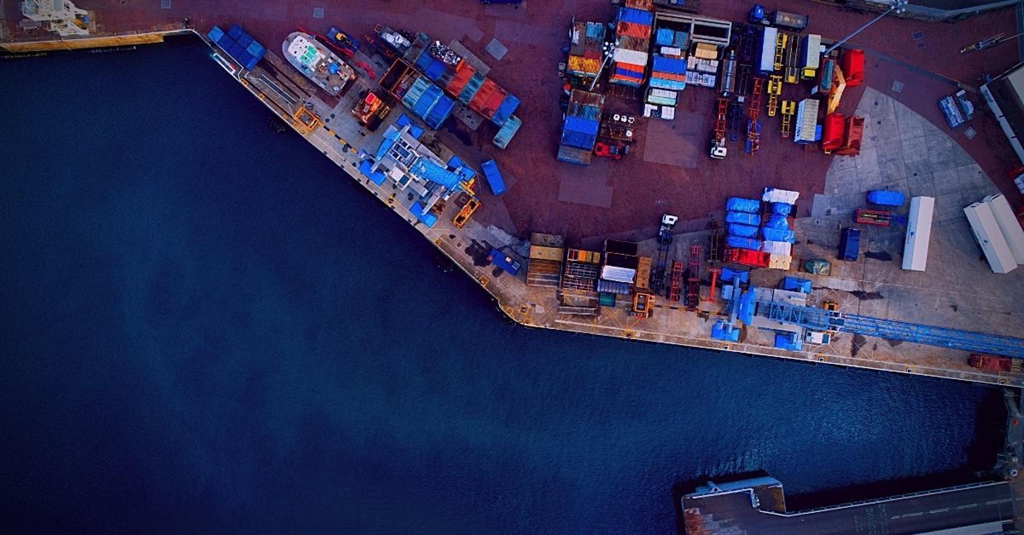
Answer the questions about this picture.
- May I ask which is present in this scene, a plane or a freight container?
freight container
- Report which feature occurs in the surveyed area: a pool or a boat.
boat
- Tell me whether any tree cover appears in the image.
No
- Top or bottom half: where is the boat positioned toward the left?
top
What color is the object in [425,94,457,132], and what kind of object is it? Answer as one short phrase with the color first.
blue shipping container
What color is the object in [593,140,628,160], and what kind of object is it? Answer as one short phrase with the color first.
red vehicle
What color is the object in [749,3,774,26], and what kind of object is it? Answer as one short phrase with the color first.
blue truck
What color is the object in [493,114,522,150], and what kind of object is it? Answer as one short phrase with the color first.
blue shipping container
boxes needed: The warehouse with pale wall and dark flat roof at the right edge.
[973,70,1024,169]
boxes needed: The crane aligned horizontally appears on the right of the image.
[710,266,1024,360]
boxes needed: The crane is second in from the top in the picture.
[358,113,477,229]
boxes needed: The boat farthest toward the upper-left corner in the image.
[282,31,356,95]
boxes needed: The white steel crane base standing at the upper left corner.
[22,0,98,41]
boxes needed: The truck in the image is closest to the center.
[486,247,523,277]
